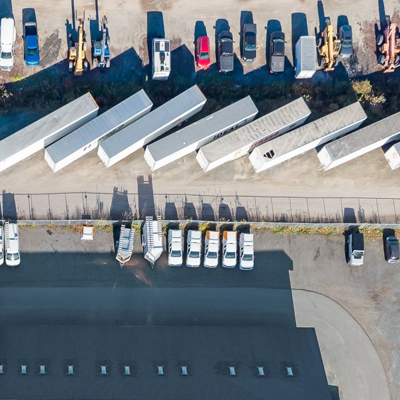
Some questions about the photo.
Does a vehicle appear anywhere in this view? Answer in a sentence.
Yes, the frame does contain a vehicle.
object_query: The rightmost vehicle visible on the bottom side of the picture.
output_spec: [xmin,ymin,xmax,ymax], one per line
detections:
[382,234,400,266]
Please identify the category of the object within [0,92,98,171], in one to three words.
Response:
trailer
